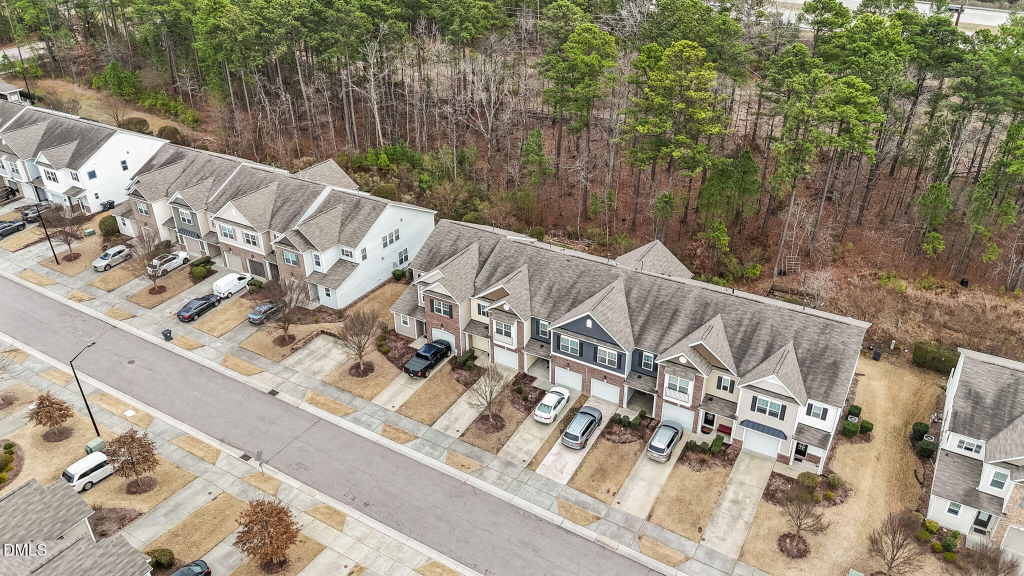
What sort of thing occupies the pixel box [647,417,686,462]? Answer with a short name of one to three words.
car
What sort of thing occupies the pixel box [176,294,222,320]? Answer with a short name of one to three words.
car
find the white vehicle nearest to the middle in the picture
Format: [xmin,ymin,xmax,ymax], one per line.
[531,385,571,423]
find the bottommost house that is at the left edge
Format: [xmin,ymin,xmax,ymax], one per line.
[0,478,152,576]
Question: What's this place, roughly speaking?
residential area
